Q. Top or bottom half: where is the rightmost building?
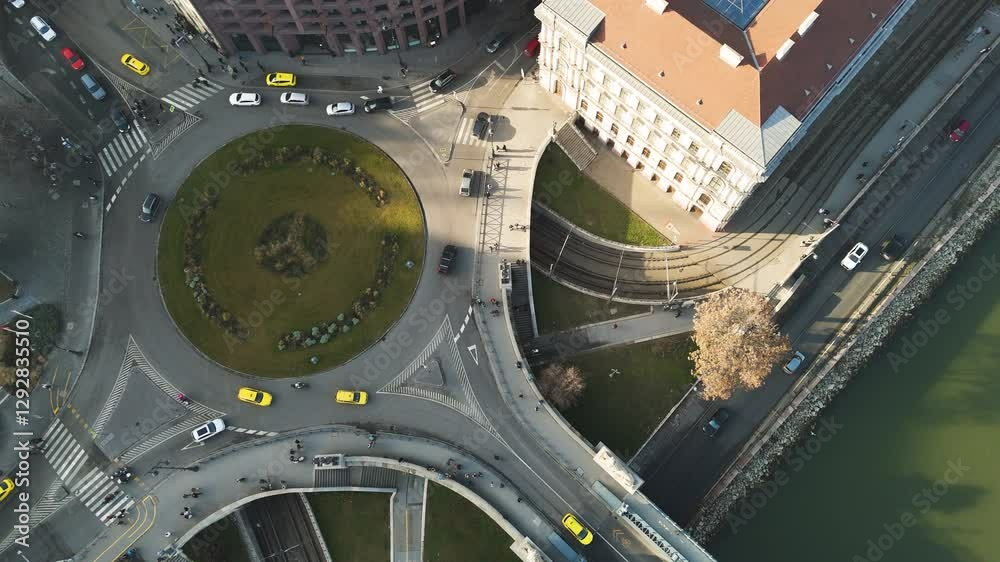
top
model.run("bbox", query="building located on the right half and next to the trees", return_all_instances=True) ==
[536,0,915,231]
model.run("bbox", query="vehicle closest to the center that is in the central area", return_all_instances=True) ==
[437,242,455,273]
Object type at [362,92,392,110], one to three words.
vehicle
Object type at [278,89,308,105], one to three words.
car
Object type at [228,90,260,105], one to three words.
car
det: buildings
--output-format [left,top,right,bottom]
[172,0,476,59]
[536,0,915,231]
